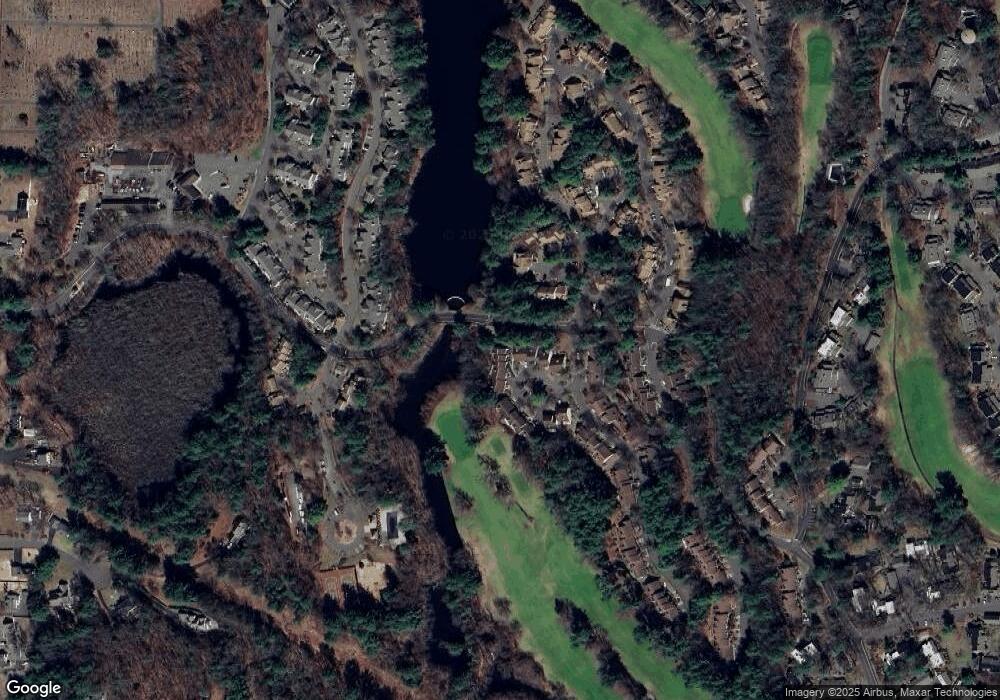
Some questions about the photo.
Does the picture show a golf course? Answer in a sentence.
Yes, there is a golf course in the image.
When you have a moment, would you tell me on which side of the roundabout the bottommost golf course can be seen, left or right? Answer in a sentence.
Compared with the roundabout, the bottommost golf course is located further to the right.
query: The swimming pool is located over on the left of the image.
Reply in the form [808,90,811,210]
[377,503,406,546]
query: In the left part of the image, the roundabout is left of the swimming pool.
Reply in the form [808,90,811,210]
[323,505,367,554]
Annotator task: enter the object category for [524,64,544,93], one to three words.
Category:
building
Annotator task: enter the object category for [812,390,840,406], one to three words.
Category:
house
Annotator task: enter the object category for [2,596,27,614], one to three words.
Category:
house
